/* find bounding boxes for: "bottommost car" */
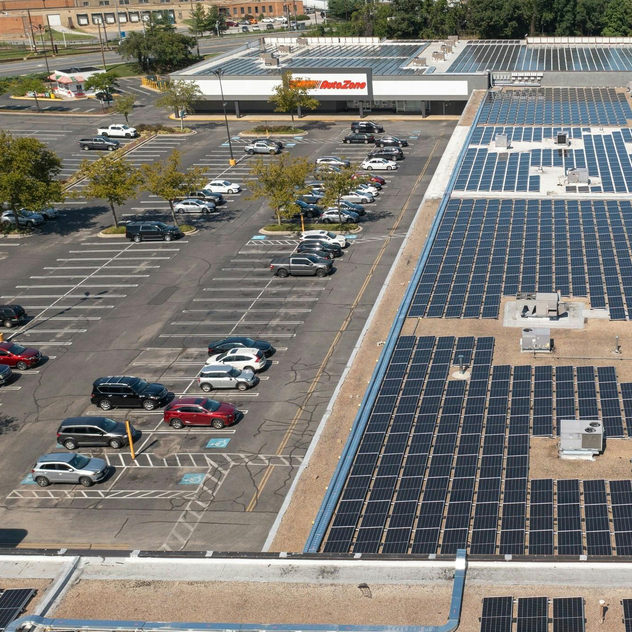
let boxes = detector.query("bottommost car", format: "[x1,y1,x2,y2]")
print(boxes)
[26,447,120,486]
